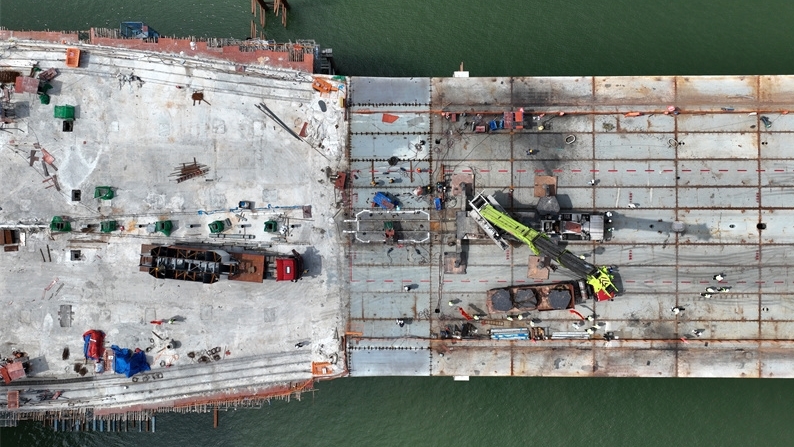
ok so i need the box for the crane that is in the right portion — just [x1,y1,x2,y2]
[456,182,630,300]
